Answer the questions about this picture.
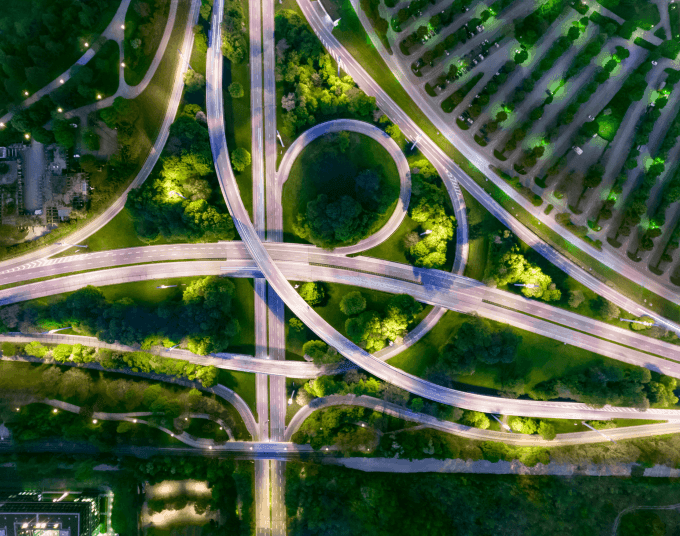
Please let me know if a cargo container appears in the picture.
No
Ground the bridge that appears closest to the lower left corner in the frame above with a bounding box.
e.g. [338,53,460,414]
[246,440,296,460]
